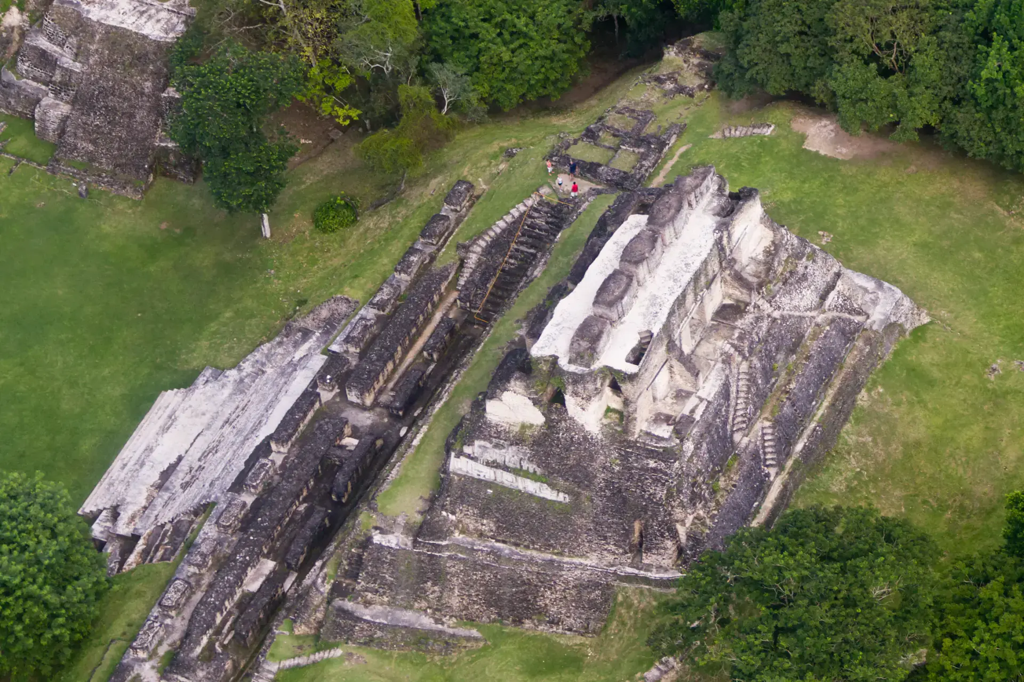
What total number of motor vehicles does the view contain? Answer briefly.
0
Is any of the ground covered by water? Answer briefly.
No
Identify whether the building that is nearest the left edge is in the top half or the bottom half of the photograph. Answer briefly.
top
